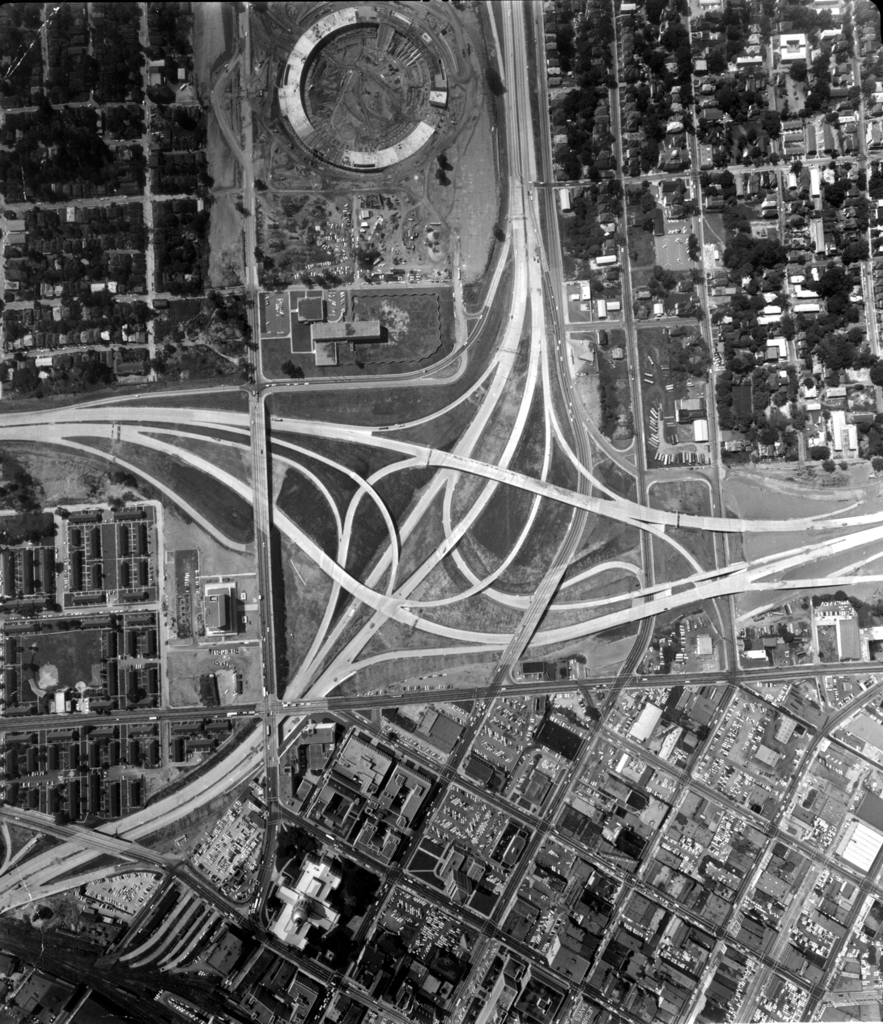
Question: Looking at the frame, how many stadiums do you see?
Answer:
1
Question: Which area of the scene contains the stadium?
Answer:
top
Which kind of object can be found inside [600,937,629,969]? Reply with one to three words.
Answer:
building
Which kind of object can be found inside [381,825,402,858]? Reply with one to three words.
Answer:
building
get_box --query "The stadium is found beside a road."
[278,6,446,175]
